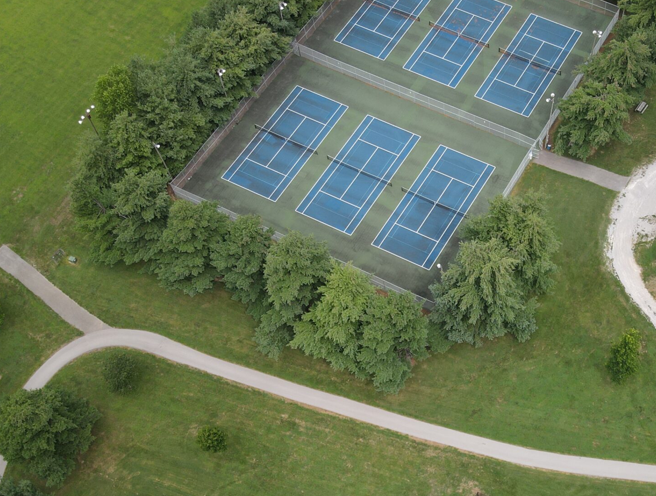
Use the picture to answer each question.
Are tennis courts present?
Yes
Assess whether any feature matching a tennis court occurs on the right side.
Yes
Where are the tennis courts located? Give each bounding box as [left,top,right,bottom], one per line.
[335,0,430,60]
[476,14,582,117]
[296,115,420,235]
[372,144,495,270]
[403,0,512,89]
[222,86,348,202]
